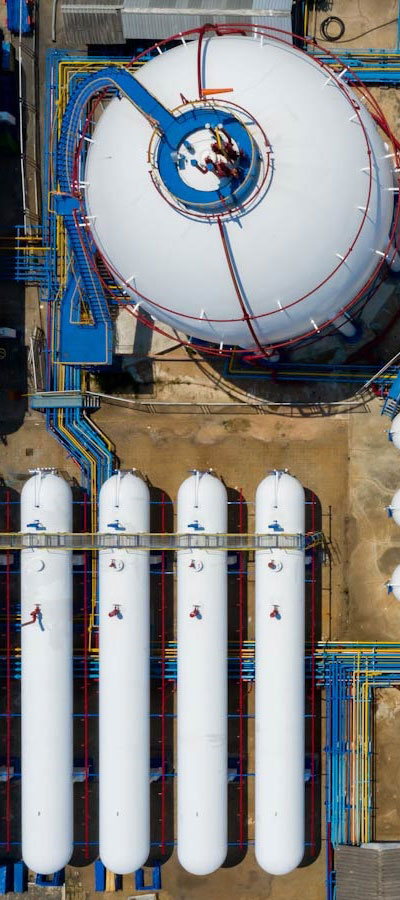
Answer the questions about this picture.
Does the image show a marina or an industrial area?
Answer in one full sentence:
This looks like an industrial area.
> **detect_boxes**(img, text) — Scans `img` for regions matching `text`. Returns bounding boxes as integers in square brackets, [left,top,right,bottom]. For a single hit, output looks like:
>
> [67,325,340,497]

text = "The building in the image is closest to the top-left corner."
[47,0,125,43]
